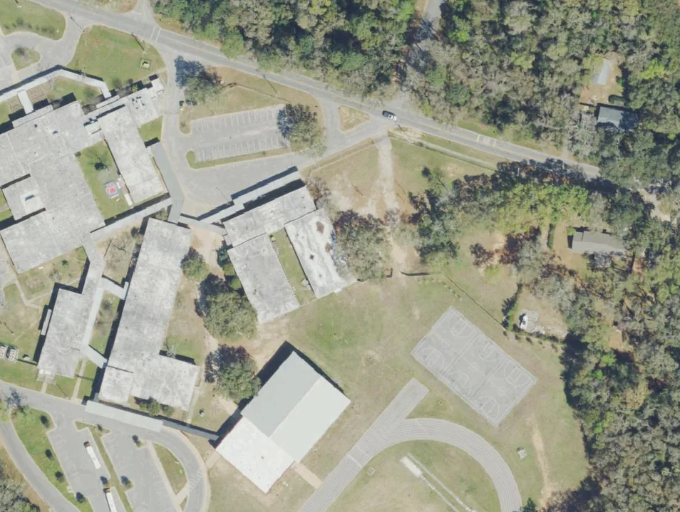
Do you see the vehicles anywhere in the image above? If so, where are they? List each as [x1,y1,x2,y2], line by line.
[383,112,397,120]
[105,486,117,512]
[522,313,528,328]
[86,442,100,468]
